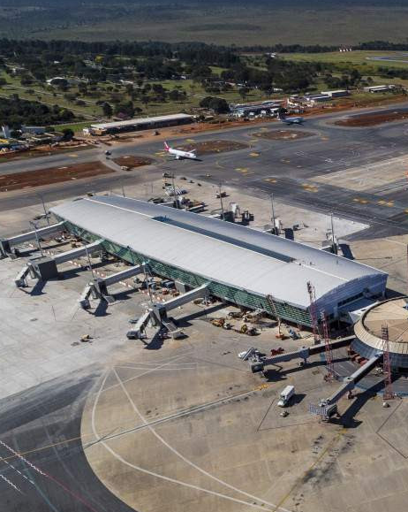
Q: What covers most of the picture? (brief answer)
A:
paved ground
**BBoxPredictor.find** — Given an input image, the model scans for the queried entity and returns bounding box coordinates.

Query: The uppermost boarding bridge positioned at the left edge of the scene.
[0,222,80,261]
